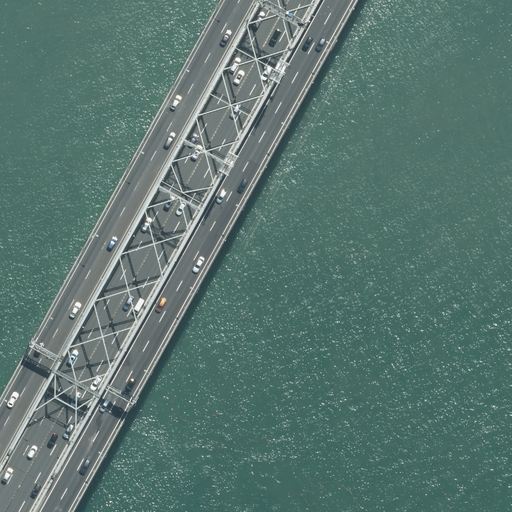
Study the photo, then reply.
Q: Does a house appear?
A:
No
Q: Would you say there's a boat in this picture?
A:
No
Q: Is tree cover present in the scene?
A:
No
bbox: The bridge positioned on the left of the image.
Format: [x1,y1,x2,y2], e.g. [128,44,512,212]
[0,0,358,512]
